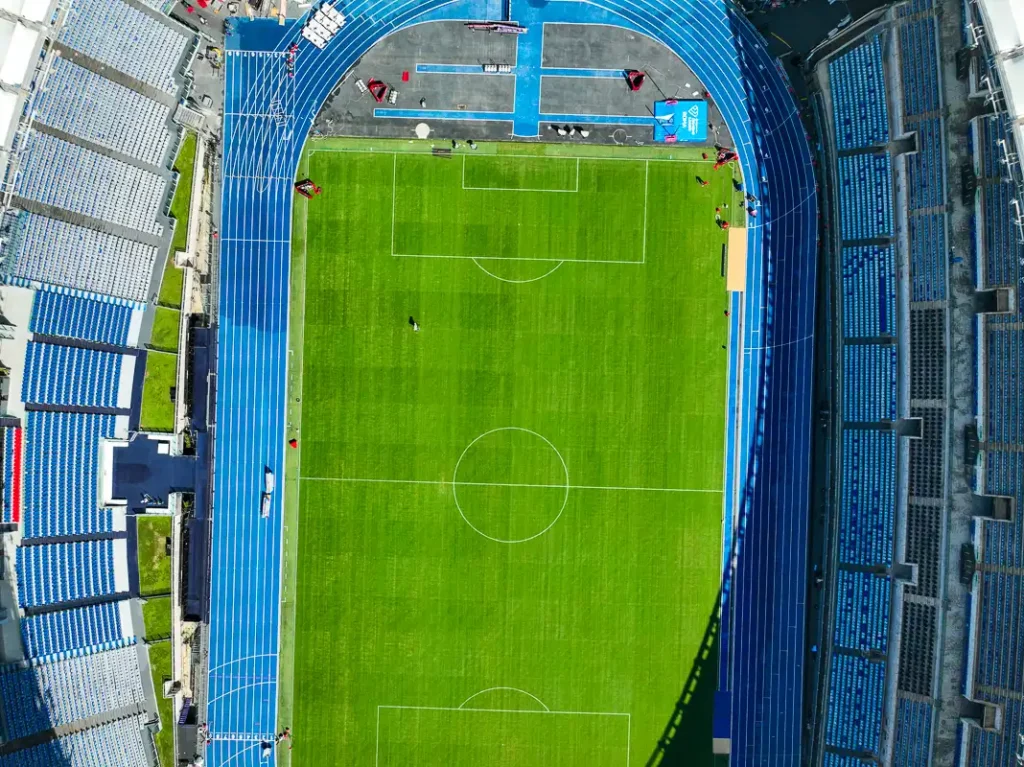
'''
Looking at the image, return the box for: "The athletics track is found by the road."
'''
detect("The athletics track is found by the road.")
[204,0,817,767]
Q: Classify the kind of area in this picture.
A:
sports ground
